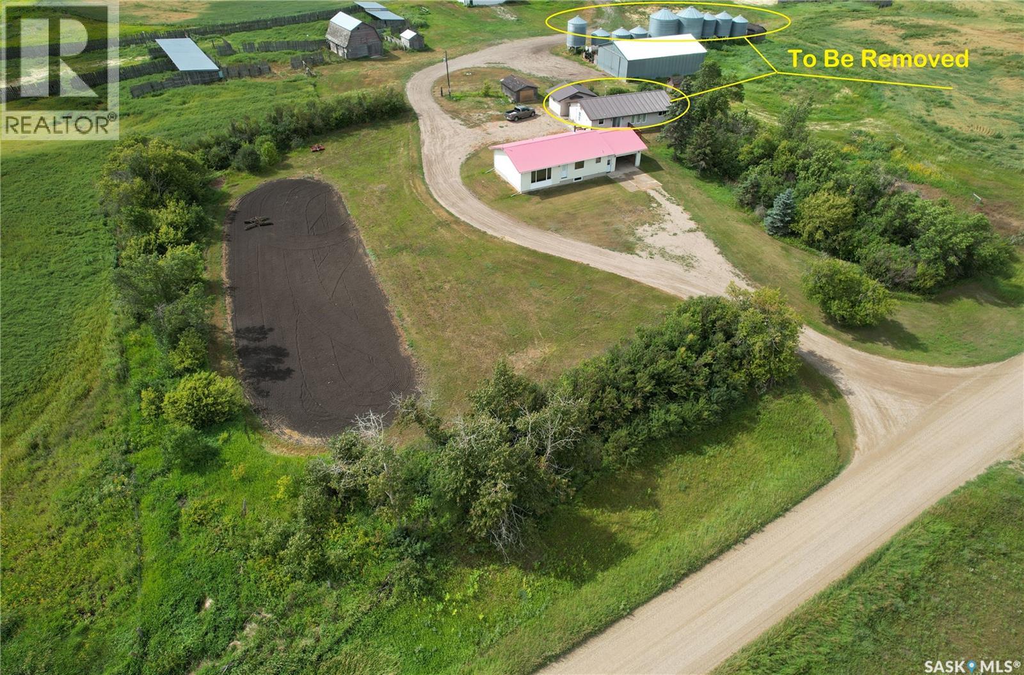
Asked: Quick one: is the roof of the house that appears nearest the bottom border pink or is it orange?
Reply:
pink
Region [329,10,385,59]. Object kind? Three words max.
barn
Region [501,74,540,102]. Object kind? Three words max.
building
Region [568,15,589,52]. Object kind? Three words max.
silo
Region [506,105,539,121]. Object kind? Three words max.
vehicle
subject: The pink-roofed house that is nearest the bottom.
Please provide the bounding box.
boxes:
[486,129,648,197]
